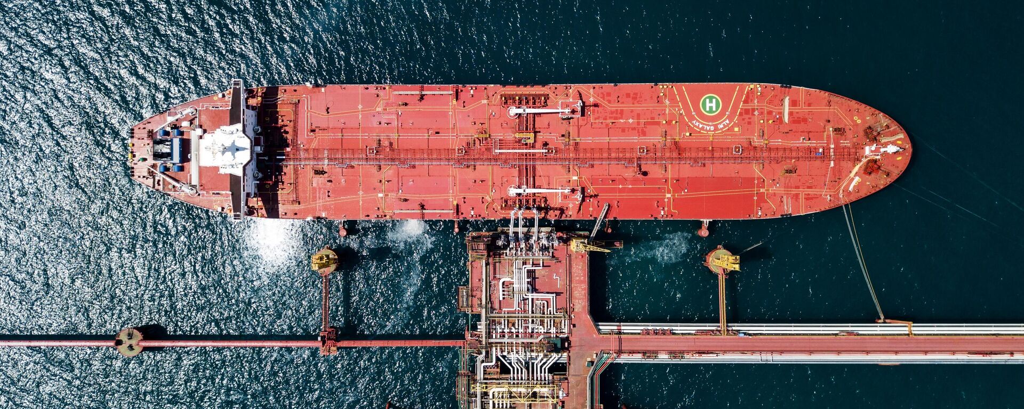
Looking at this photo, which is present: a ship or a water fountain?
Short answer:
ship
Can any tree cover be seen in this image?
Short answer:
No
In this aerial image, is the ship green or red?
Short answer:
red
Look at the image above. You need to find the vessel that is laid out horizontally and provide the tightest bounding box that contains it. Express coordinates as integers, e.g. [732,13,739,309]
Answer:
[128,78,913,220]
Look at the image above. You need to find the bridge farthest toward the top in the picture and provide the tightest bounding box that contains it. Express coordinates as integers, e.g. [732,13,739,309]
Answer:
[598,323,1024,365]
